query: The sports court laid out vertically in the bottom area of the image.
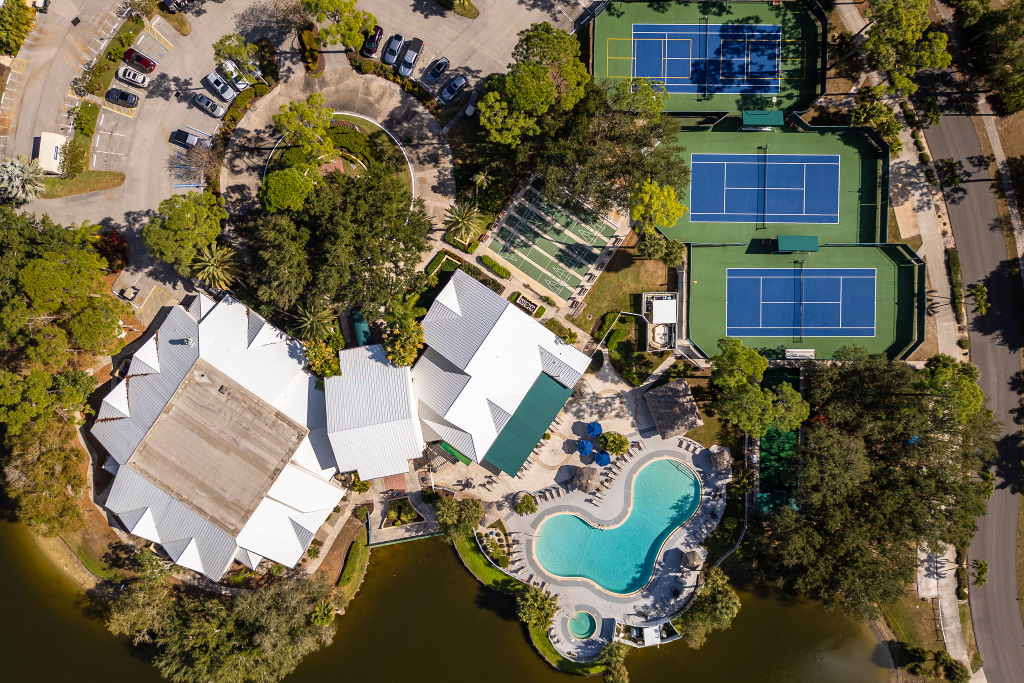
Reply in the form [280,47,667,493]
[756,369,800,513]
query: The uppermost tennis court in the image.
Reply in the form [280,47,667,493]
[597,2,820,132]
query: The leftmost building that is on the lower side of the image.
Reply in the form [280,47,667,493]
[90,293,346,581]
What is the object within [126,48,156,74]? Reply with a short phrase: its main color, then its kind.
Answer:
red car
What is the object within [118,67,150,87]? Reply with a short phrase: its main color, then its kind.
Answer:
white car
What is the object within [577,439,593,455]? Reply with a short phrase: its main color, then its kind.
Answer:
blue umbrella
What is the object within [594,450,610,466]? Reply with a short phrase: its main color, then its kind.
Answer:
blue umbrella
